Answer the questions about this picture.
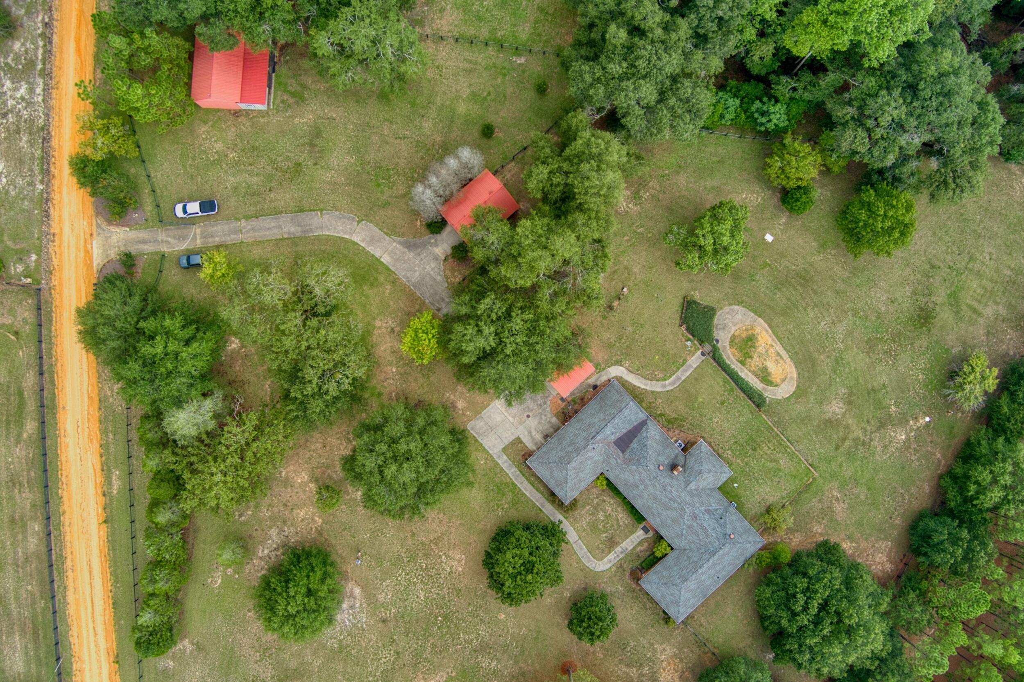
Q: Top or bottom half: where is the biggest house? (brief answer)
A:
bottom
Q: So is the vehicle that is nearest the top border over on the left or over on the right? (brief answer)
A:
left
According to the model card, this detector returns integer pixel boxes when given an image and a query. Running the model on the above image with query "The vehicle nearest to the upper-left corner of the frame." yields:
[173,199,221,219]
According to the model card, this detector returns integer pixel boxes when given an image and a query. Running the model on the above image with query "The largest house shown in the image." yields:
[526,379,766,624]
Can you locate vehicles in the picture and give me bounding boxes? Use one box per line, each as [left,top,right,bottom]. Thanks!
[178,253,221,270]
[173,199,221,219]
